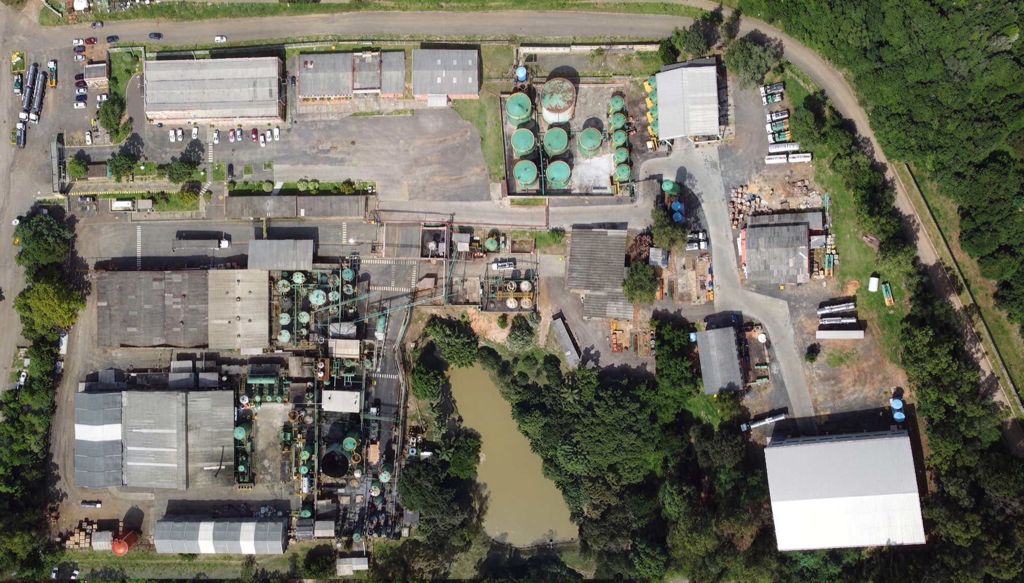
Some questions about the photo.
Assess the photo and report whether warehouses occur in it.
Yes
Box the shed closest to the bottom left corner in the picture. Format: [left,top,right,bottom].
[91,528,118,550]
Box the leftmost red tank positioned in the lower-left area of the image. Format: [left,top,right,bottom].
[110,528,146,558]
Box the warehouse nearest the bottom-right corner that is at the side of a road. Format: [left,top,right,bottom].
[752,424,926,551]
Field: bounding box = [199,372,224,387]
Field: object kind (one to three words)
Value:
shed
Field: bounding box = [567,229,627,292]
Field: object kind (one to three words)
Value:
building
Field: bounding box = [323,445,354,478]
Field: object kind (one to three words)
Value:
storage tank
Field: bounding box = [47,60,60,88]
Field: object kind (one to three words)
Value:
vehicle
